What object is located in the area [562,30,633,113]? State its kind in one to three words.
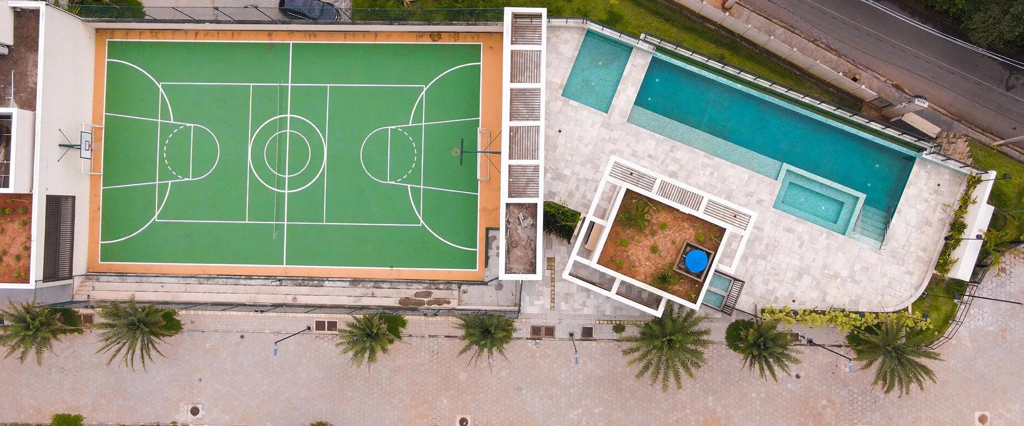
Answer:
swimming pool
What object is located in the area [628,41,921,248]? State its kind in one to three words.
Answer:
swimming pool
